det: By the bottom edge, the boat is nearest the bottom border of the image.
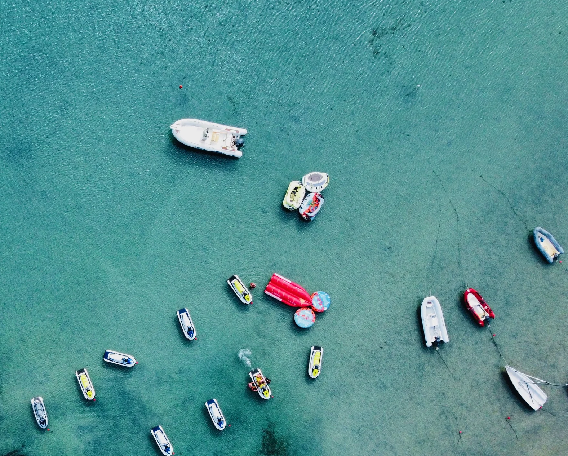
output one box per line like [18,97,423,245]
[151,424,172,456]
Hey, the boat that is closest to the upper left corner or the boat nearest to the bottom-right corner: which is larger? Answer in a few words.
the boat that is closest to the upper left corner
